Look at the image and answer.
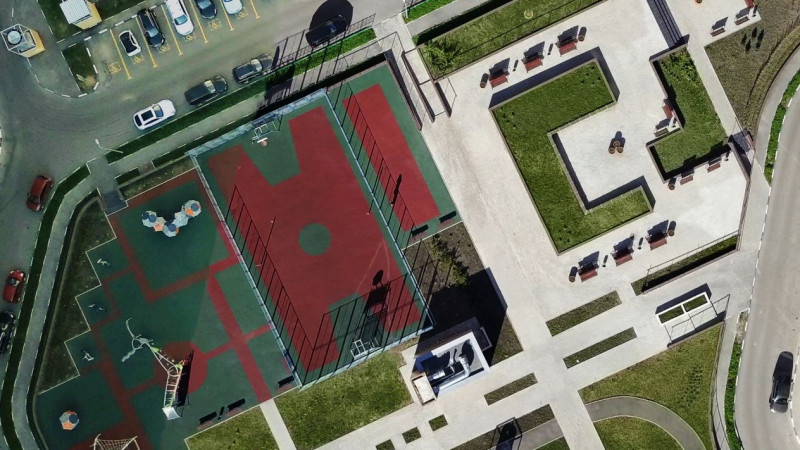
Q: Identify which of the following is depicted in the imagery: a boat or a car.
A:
car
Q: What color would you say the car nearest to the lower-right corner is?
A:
black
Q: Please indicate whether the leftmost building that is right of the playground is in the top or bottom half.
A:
bottom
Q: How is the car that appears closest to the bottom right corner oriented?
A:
up and down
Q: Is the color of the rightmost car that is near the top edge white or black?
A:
black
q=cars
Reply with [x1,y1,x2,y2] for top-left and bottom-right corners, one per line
[129,99,175,129]
[23,173,50,212]
[220,0,241,13]
[0,267,25,305]
[181,75,228,105]
[0,311,16,355]
[162,0,193,35]
[133,3,165,48]
[116,27,141,56]
[303,14,348,44]
[770,366,795,412]
[194,0,216,19]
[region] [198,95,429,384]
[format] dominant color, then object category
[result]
red sports court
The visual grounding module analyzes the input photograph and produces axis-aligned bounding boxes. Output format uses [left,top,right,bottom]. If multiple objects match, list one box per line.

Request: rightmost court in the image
[326,56,462,252]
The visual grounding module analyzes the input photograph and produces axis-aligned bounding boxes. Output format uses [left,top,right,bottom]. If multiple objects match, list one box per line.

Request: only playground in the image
[37,167,302,450]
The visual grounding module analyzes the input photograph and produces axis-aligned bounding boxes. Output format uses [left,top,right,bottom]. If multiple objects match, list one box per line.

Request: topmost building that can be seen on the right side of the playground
[409,324,491,406]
